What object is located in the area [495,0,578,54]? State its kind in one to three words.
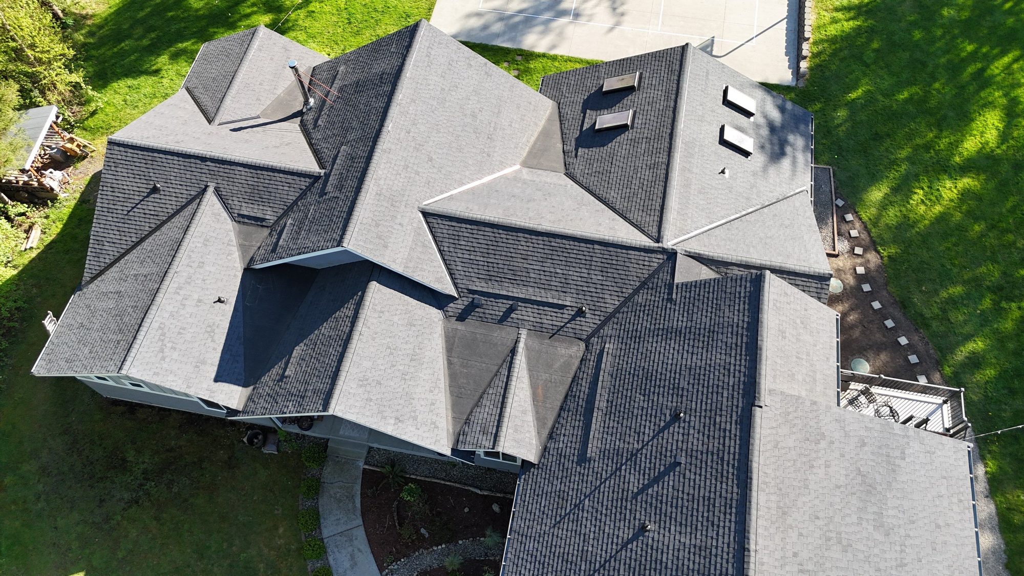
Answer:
sports court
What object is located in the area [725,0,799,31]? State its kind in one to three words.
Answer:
sports court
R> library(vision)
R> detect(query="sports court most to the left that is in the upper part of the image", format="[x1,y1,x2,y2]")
[429,0,507,44]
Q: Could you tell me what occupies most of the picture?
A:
buildings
